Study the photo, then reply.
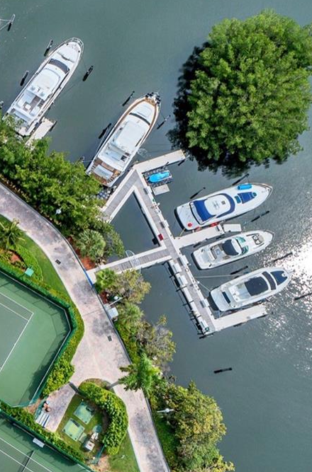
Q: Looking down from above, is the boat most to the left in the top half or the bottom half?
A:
top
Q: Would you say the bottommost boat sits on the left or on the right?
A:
right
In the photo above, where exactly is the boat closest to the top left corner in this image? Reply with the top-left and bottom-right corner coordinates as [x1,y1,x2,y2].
[2,33,85,145]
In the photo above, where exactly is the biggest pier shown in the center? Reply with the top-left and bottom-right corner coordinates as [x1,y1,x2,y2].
[100,150,219,336]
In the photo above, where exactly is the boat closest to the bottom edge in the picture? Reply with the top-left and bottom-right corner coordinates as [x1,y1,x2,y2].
[204,266,297,314]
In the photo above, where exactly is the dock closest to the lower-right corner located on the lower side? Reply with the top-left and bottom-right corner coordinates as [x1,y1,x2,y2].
[202,306,273,337]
